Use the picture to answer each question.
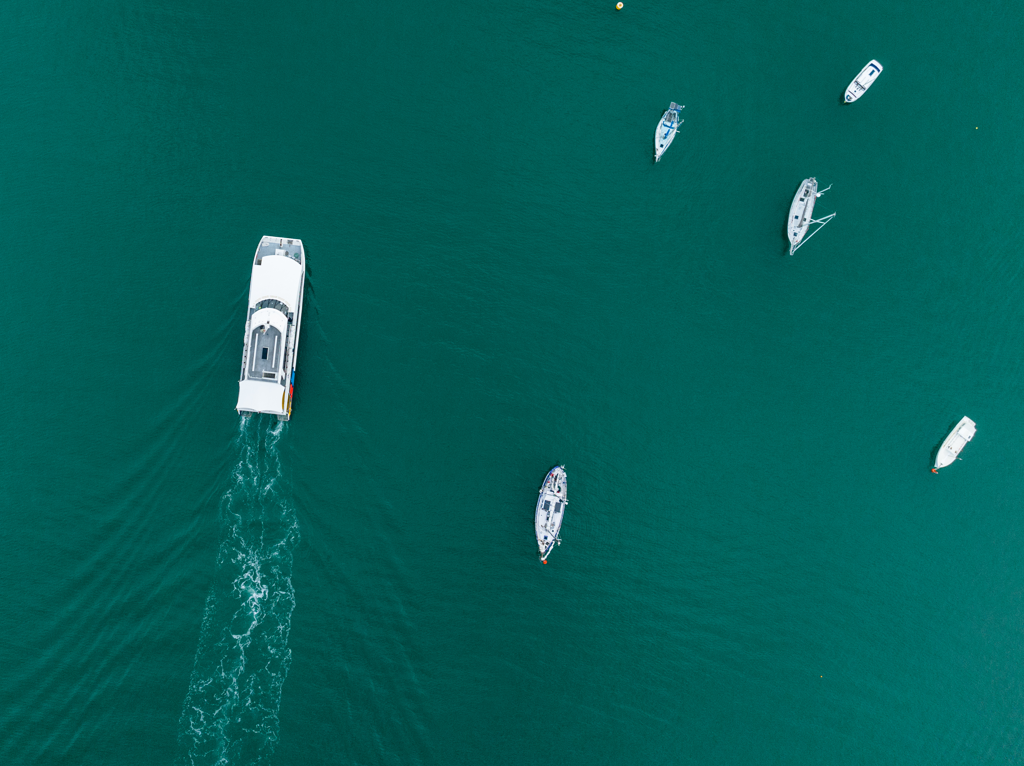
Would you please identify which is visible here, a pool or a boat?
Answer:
boat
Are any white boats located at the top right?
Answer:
Yes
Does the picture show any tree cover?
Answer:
No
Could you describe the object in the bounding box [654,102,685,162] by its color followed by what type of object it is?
white boat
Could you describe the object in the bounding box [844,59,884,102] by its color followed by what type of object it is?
white boat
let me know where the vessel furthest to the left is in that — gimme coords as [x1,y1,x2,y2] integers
[234,235,306,421]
